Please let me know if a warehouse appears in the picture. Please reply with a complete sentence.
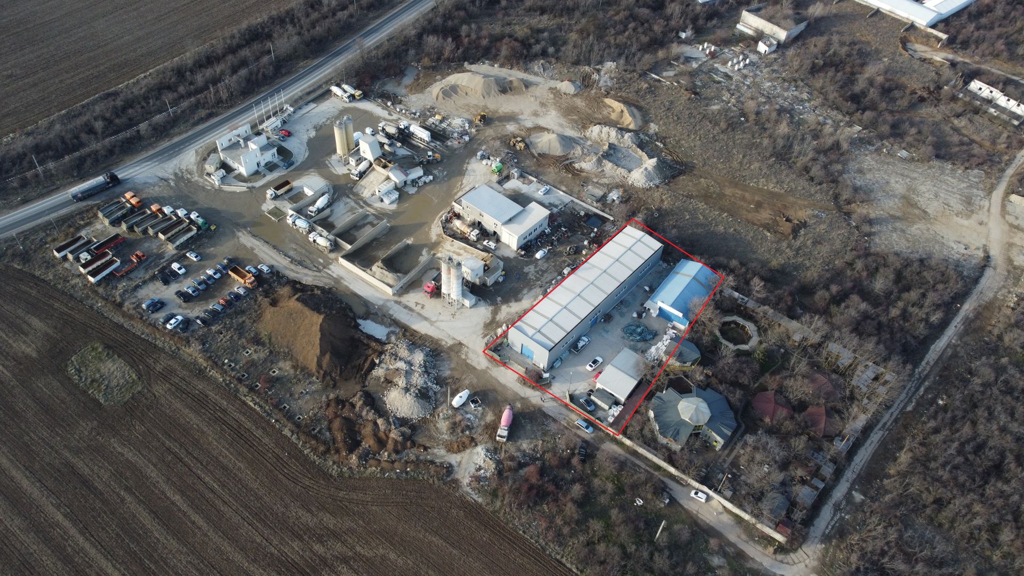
Yes, there's a warehouse down there.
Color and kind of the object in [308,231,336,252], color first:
white truck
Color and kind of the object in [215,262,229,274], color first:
blue vehicle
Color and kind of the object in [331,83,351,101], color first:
white vehicle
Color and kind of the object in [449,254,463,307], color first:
white silo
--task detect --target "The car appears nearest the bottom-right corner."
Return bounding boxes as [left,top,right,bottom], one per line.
[689,490,709,504]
